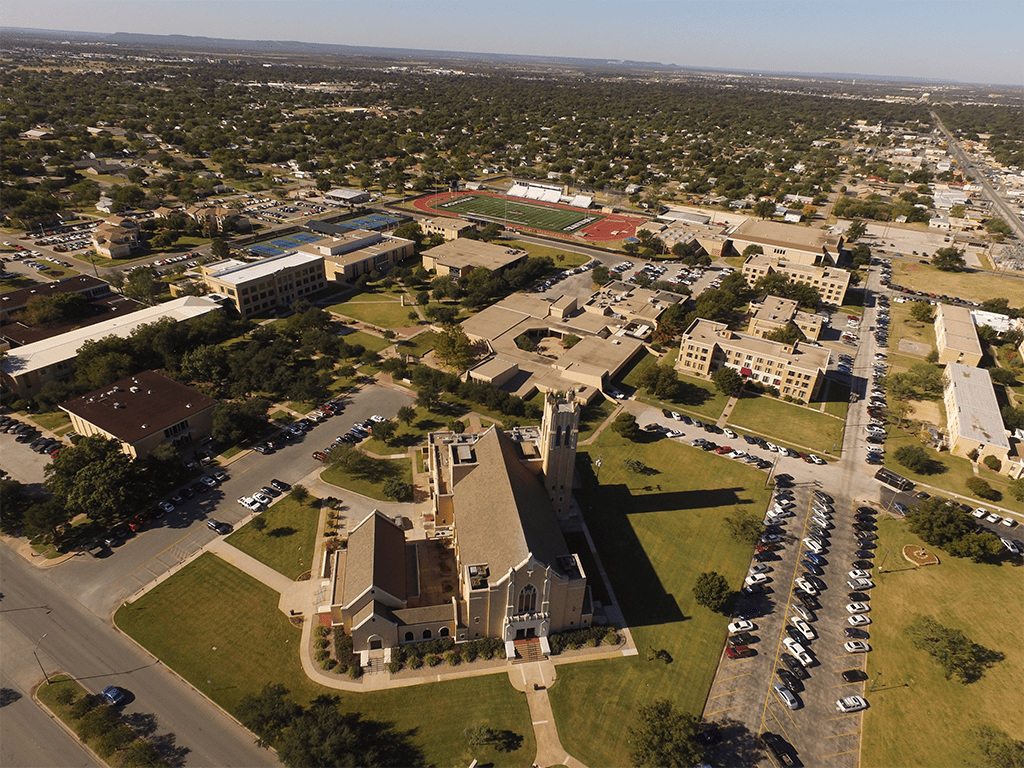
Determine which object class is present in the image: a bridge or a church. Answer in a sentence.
There is a church in the scene.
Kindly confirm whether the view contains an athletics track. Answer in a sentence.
Yes, there's an athletics track here.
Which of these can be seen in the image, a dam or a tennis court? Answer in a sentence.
There is a tennis court in the scene.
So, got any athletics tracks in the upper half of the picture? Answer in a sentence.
Yes, an athletics track appears in the upper half of the picture.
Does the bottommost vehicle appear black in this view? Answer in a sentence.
Yes, black is the color of the bottommost vehicle.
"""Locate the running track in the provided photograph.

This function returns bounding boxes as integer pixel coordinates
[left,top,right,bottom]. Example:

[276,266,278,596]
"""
[419,192,645,240]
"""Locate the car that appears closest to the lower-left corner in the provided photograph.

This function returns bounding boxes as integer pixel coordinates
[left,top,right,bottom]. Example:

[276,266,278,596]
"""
[101,683,128,706]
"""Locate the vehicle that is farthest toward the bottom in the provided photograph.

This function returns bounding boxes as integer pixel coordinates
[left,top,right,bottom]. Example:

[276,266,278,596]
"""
[763,729,796,768]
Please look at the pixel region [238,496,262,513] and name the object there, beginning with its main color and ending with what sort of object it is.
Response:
white vehicle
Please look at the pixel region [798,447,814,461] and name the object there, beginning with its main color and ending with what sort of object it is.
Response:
red car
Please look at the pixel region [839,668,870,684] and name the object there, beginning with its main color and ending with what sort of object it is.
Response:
black car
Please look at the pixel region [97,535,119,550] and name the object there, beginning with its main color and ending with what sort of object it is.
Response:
black car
